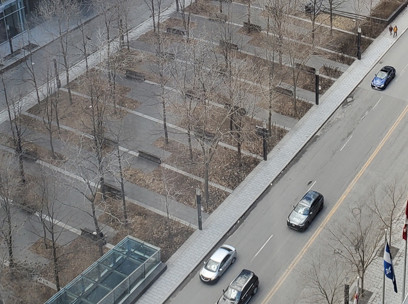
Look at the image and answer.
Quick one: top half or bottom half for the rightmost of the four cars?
top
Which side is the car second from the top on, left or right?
right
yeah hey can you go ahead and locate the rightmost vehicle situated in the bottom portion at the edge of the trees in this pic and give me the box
[285,191,324,232]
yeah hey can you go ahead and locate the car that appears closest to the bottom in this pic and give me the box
[215,267,261,304]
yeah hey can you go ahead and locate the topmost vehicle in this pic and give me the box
[368,63,394,87]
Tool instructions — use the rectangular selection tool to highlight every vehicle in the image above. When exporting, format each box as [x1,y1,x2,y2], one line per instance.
[285,191,324,232]
[368,63,394,87]
[215,267,261,304]
[194,240,239,286]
